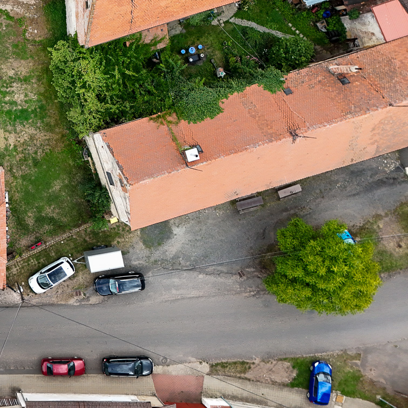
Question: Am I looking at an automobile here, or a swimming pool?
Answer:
automobile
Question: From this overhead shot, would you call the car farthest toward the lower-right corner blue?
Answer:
Yes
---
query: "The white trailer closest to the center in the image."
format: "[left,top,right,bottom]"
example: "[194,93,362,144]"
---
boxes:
[76,249,130,276]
